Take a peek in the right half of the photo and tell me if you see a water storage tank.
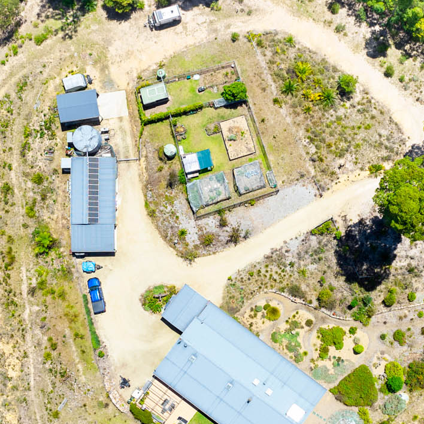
No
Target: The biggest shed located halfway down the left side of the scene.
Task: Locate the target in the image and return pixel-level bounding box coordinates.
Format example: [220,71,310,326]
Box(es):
[71,157,120,253]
